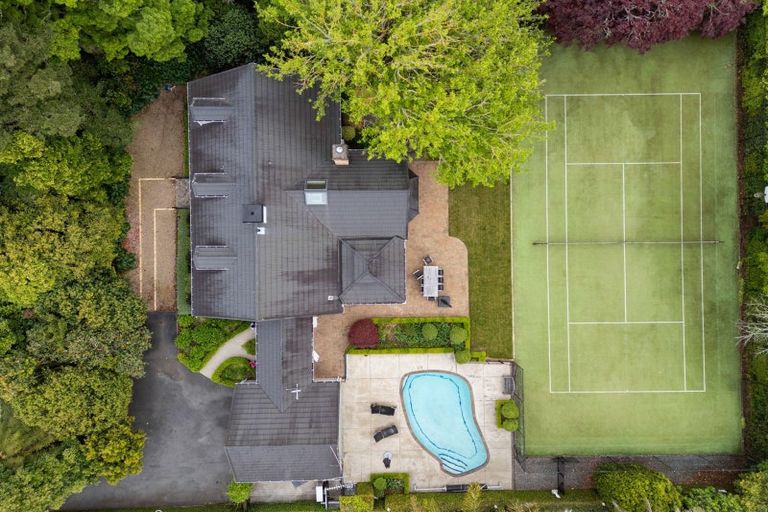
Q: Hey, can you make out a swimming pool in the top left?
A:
No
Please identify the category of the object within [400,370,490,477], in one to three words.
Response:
swimming pool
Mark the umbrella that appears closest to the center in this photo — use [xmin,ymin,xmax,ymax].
[437,295,452,308]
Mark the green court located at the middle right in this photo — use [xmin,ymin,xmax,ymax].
[512,12,742,457]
